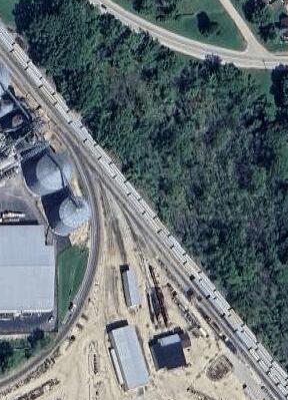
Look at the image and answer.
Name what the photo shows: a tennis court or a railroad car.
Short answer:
railroad car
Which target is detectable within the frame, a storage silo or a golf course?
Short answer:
storage silo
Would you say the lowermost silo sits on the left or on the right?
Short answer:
left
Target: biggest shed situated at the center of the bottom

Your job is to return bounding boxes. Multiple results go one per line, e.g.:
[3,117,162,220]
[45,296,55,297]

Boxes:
[110,325,149,390]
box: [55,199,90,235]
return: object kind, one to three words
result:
silo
